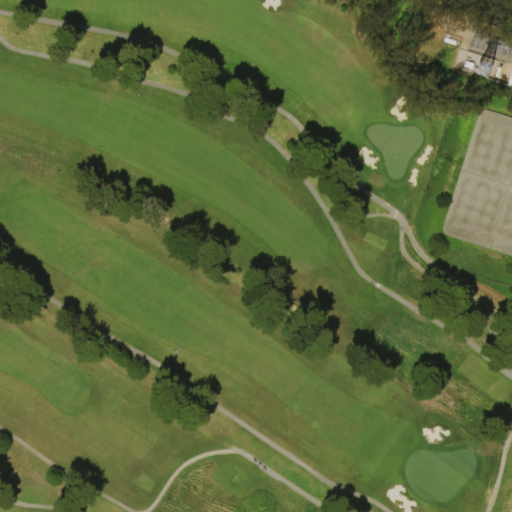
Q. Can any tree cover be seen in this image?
Yes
